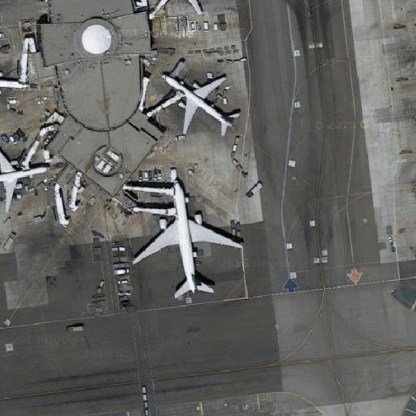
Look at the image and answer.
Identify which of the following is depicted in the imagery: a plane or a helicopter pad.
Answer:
plane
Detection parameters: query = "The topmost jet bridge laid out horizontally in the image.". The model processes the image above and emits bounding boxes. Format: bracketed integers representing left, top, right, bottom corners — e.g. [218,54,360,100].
[120,183,174,195]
